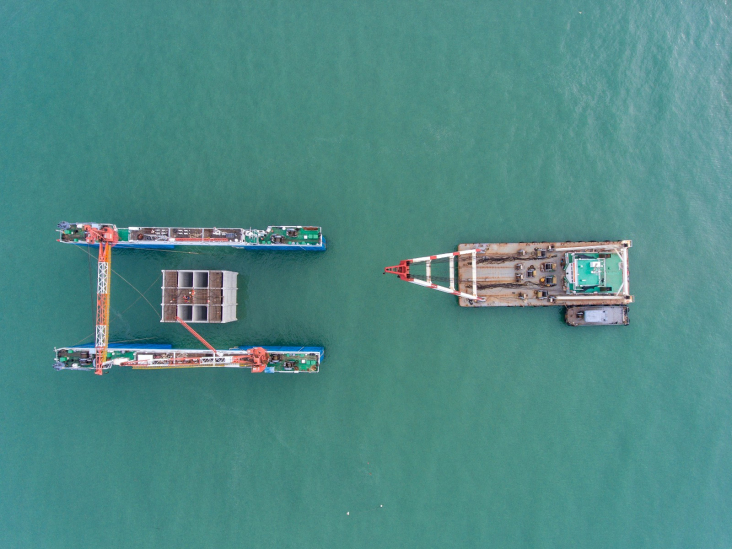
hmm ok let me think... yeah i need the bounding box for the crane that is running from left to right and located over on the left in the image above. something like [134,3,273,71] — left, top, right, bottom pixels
[118,349,272,372]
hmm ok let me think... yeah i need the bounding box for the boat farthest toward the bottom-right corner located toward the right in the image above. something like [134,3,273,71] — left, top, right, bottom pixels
[564,305,629,327]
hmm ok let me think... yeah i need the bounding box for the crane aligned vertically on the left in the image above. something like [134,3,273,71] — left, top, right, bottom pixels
[84,221,125,375]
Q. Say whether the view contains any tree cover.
No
